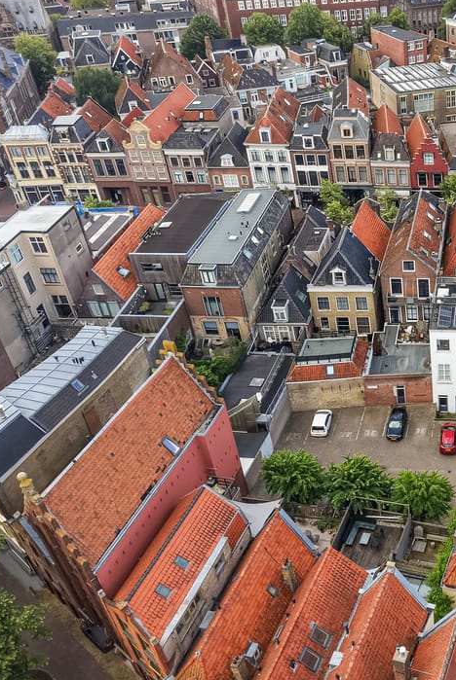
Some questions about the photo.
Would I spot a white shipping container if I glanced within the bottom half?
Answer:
No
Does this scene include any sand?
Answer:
No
